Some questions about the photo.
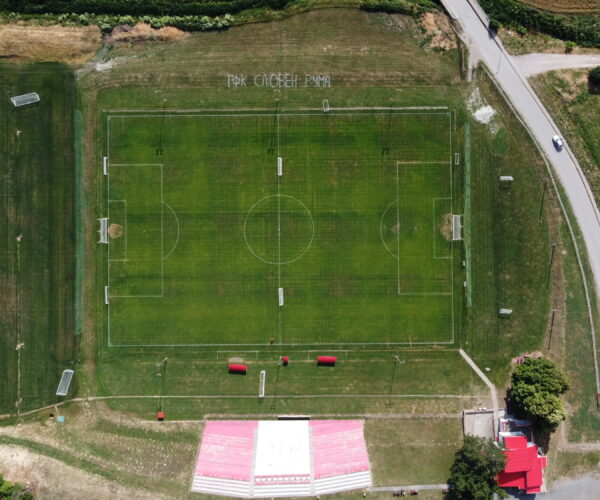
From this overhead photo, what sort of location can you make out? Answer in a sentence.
What you see here is a sports ground.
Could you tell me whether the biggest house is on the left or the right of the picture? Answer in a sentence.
The biggest house sits on the right side.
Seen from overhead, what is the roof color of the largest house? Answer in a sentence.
The roof over the largest house appears red.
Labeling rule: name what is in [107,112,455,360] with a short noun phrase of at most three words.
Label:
soccer field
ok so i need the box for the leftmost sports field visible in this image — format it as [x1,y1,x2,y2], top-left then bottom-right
[0,66,76,398]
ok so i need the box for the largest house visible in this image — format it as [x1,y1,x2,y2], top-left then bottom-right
[497,417,547,495]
